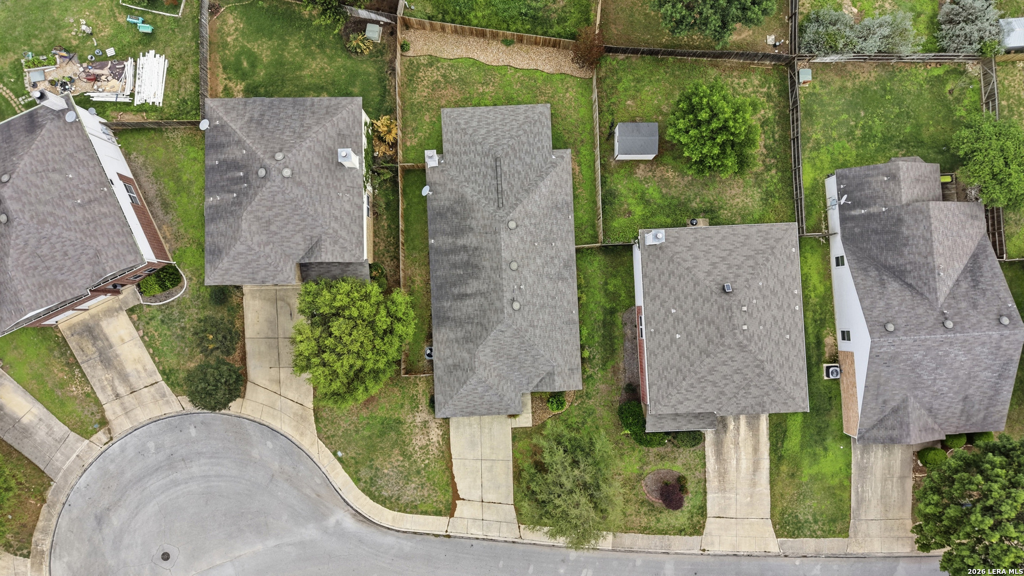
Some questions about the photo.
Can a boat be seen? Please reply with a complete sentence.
No, the picture doesn't show any boat.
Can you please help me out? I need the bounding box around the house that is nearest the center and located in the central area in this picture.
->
[424,103,582,419]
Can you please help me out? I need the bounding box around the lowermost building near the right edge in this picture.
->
[825,156,1023,444]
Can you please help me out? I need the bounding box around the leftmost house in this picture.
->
[0,85,176,339]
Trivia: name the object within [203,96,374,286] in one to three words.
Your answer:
house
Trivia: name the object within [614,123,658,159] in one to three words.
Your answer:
shed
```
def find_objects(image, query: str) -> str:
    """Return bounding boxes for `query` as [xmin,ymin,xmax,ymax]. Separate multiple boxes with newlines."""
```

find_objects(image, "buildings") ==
[1000,11,1024,47]
[825,156,1023,444]
[0,85,176,339]
[614,123,658,159]
[203,96,374,286]
[632,222,809,433]
[424,103,582,419]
